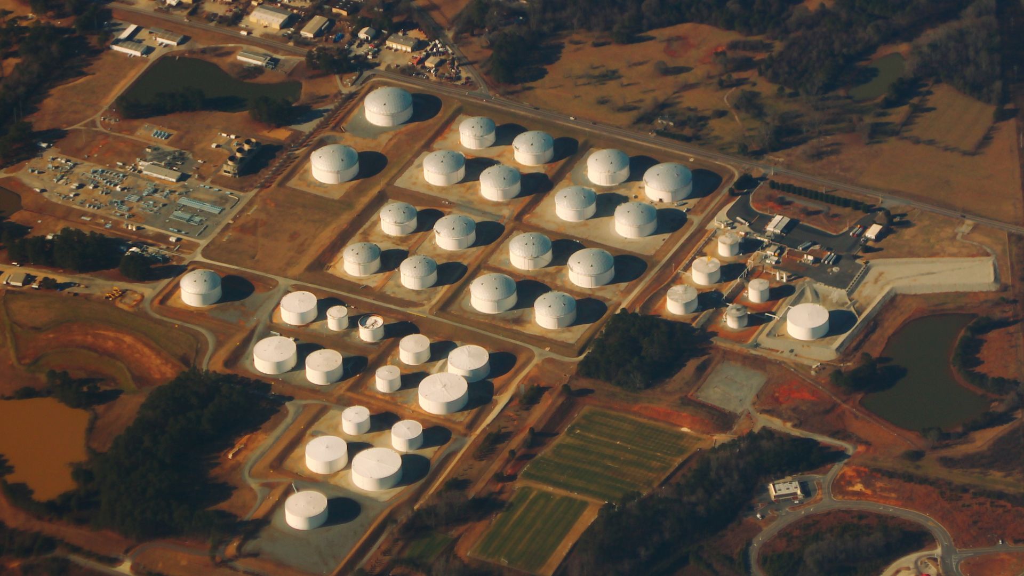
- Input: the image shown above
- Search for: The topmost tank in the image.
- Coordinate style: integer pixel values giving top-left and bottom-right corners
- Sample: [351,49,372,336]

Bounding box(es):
[363,88,414,127]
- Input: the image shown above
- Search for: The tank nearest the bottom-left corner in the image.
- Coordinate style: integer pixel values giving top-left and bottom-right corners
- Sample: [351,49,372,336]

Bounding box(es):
[283,488,330,531]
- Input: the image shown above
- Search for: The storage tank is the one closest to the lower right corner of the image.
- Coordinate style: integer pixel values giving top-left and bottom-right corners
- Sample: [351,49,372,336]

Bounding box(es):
[785,302,831,341]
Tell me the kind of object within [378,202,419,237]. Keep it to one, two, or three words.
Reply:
storage tank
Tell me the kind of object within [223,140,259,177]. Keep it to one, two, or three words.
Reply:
cooling tower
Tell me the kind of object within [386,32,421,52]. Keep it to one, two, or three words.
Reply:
building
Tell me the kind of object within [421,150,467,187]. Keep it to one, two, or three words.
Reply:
storage tank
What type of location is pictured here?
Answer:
industrial area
